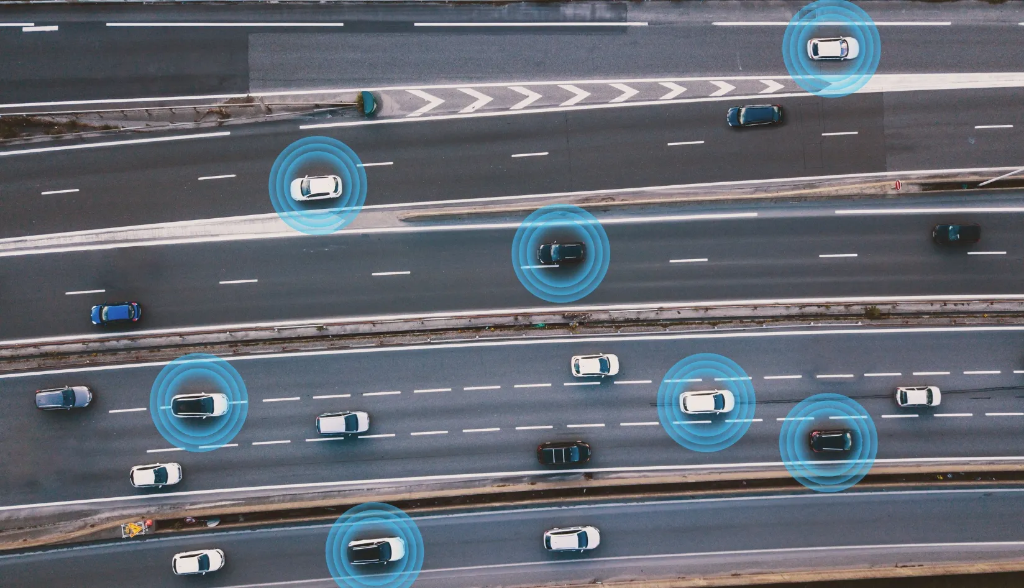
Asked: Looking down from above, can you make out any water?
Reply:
No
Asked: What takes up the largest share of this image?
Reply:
paved ground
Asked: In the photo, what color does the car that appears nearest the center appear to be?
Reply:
black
